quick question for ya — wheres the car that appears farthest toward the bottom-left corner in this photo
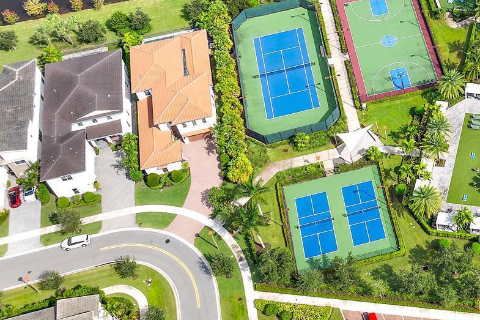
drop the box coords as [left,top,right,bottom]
[61,232,88,250]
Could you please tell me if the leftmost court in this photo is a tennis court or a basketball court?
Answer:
tennis court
